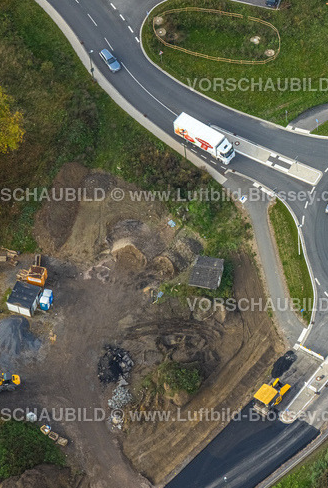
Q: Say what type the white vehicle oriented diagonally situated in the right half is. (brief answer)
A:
truck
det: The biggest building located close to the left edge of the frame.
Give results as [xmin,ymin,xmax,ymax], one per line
[7,280,44,322]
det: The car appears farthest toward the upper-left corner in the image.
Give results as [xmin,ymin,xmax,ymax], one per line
[99,48,120,72]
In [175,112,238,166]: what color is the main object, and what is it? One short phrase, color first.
white truck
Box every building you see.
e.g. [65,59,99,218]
[188,256,224,292]
[7,280,44,322]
